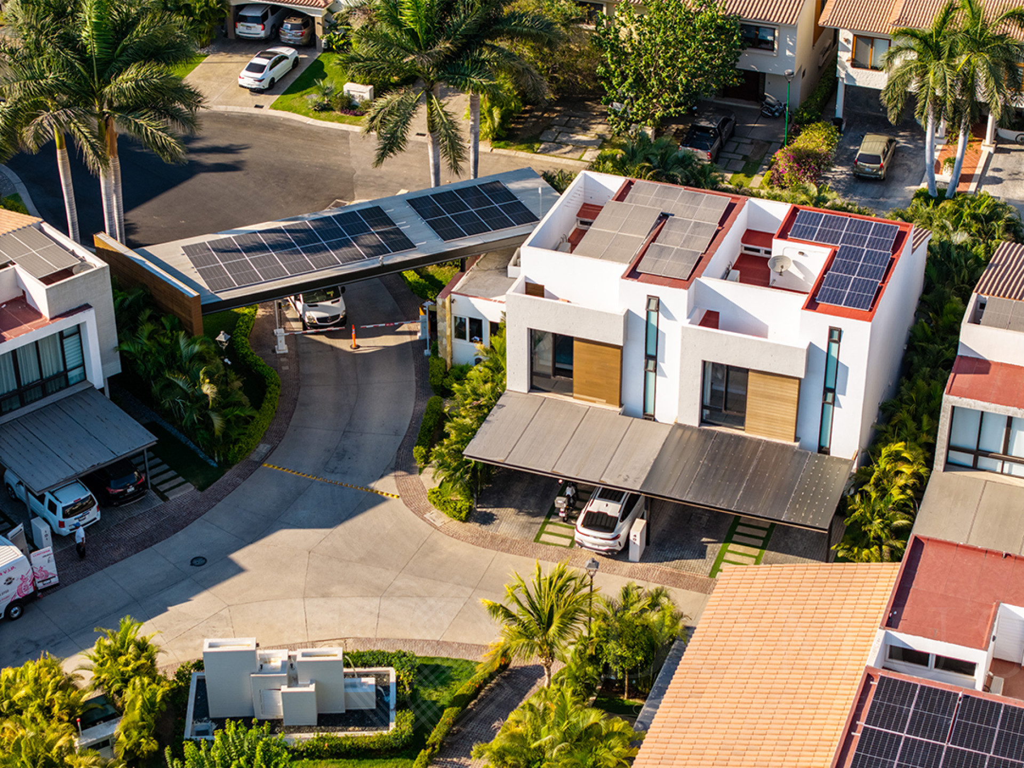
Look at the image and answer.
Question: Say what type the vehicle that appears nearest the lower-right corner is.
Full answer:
Specifically, the vehicle that appears nearest the lower-right corner is a car.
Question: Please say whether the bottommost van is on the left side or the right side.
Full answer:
You can find the bottommost van on the left side of the picture.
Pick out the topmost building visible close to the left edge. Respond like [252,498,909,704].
[0,174,158,515]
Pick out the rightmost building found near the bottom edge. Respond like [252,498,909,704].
[607,534,1024,768]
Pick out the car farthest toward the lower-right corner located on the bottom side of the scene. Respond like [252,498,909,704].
[578,490,665,553]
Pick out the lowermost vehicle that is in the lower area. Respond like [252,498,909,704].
[0,537,56,633]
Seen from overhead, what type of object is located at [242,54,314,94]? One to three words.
car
